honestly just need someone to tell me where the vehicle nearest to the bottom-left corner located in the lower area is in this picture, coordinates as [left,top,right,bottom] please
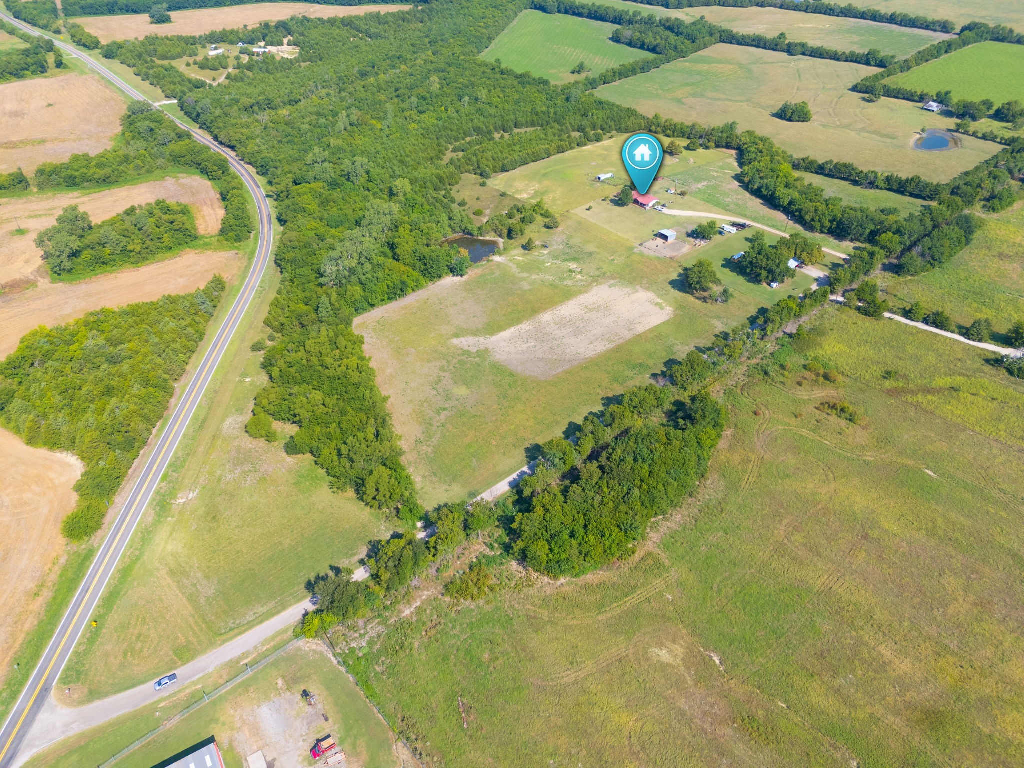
[155,671,178,688]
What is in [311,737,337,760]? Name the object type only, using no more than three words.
truck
